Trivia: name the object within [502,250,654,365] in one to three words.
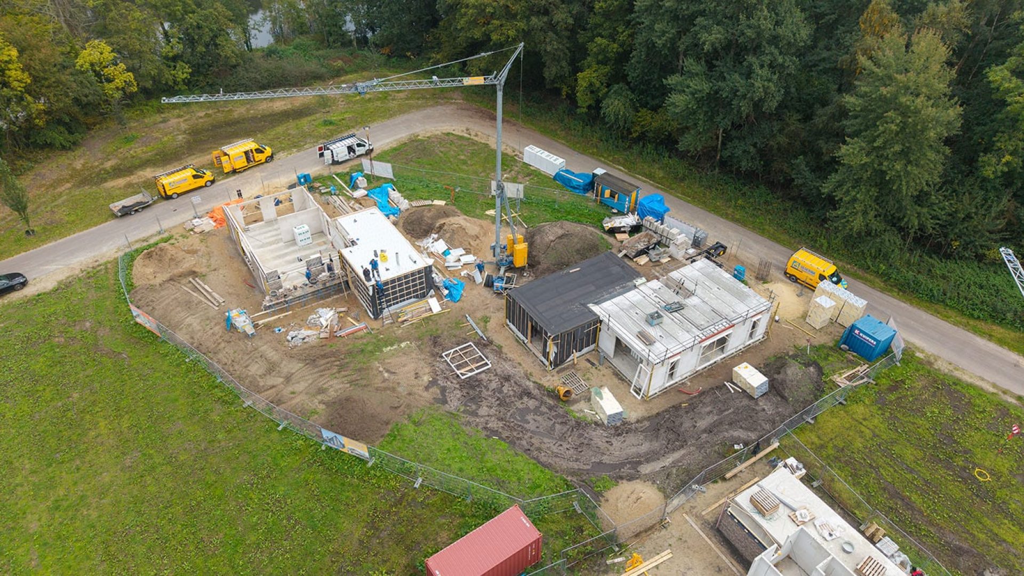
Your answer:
house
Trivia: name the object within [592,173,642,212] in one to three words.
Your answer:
building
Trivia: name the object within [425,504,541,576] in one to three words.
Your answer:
shipping container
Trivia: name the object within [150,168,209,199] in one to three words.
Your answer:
van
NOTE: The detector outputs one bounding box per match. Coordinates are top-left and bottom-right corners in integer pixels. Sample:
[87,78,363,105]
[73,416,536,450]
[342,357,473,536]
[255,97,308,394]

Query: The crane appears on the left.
[158,43,528,292]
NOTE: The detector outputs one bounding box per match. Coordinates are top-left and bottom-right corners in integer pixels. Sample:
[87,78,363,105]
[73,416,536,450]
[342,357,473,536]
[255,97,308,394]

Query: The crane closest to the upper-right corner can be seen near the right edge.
[997,245,1024,310]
